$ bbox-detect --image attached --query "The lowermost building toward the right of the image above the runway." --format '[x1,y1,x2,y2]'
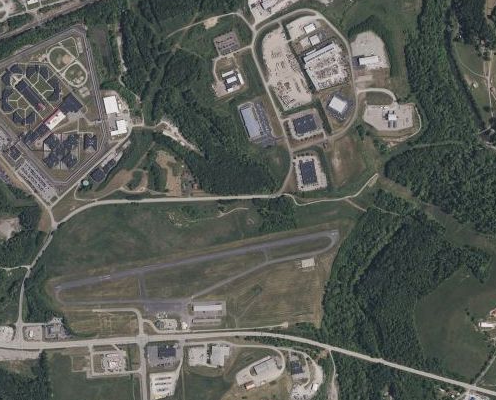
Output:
[299,159,317,185]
